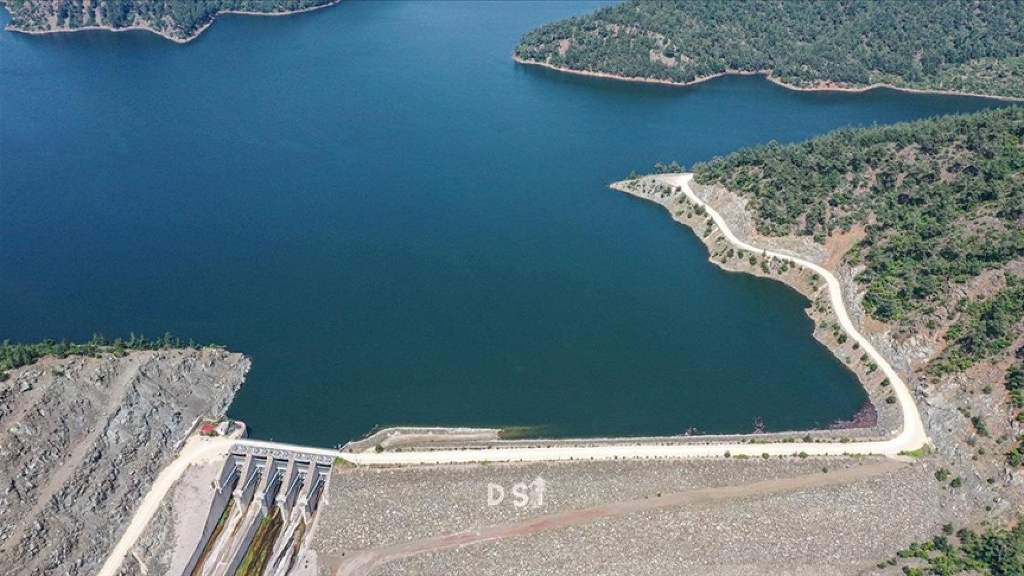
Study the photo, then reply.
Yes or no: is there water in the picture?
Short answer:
Yes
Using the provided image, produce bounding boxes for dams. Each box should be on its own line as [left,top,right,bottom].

[307,432,945,576]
